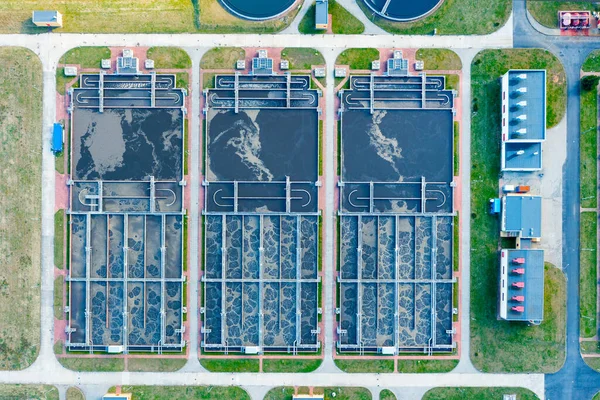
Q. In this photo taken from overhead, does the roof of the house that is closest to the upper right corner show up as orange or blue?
blue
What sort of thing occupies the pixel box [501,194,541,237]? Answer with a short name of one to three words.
building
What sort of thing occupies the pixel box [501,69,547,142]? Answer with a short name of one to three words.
house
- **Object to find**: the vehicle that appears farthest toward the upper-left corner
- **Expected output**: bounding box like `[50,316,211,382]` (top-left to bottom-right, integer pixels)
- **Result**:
[52,122,66,152]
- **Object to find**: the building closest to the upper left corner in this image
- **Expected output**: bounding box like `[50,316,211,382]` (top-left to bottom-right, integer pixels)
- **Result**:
[32,10,63,29]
